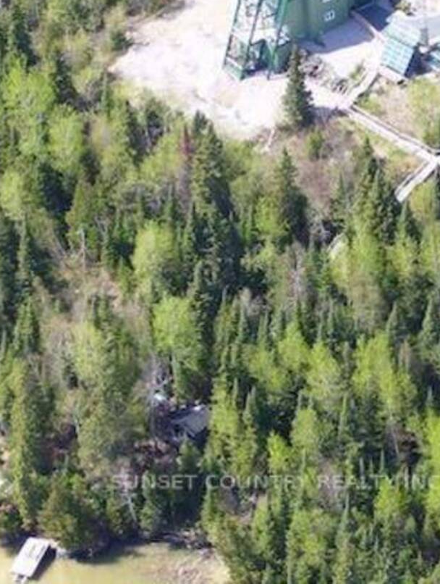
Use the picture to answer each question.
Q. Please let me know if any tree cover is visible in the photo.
Yes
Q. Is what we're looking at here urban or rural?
rural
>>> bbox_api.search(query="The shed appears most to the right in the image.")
[379,14,430,75]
